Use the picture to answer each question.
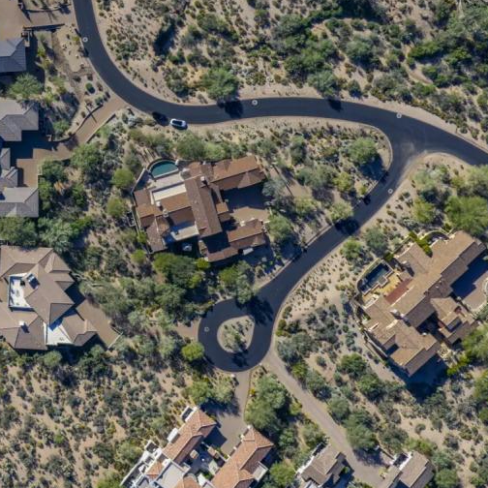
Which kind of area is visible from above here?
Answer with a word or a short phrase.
residential area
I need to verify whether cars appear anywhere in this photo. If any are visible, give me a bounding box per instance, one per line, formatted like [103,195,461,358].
[171,119,187,128]
[153,112,170,125]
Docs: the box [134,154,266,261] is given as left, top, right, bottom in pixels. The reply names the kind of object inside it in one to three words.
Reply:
house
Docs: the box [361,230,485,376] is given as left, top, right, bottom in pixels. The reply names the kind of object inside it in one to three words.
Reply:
house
